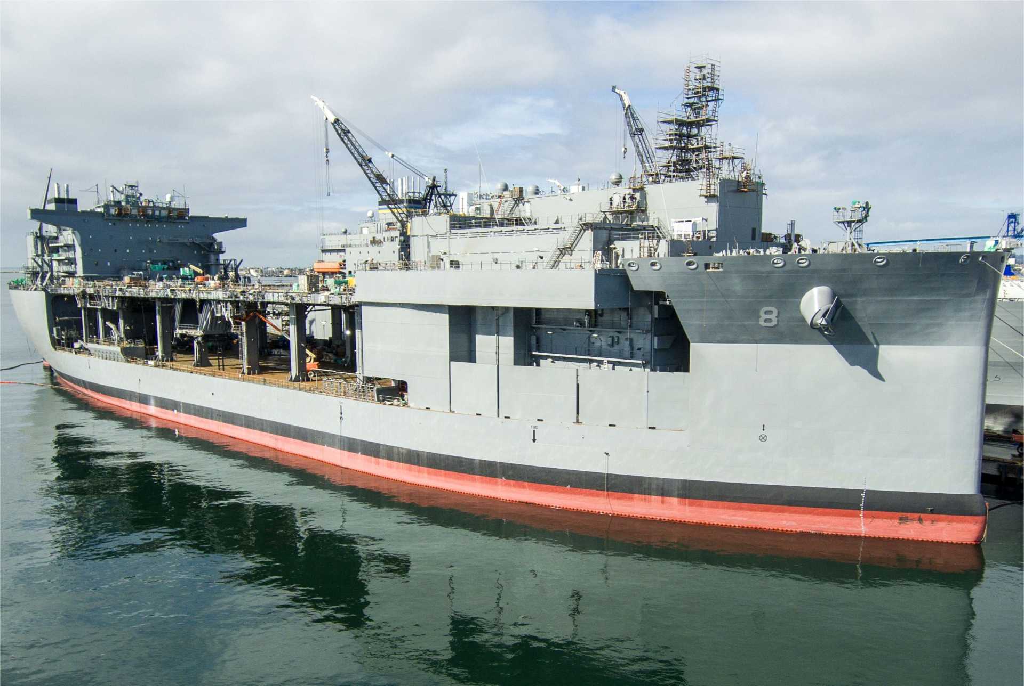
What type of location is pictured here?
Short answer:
port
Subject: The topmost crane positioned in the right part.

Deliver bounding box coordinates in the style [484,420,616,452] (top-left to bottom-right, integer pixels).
[608,82,672,185]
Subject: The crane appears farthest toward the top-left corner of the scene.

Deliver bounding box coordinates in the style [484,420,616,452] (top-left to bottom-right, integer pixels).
[310,94,458,270]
